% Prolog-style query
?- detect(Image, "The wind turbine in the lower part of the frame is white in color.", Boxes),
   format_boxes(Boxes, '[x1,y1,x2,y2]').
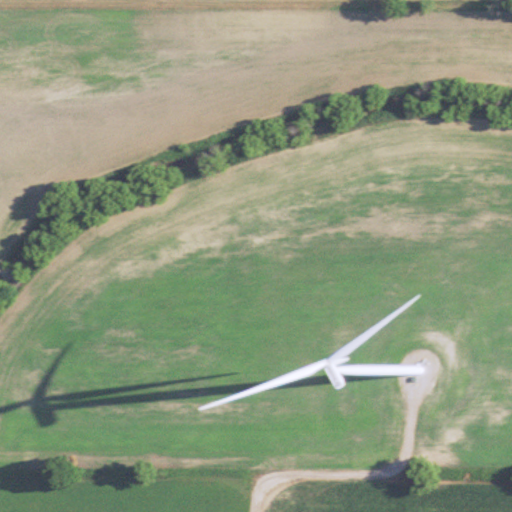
[200,294,428,409]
